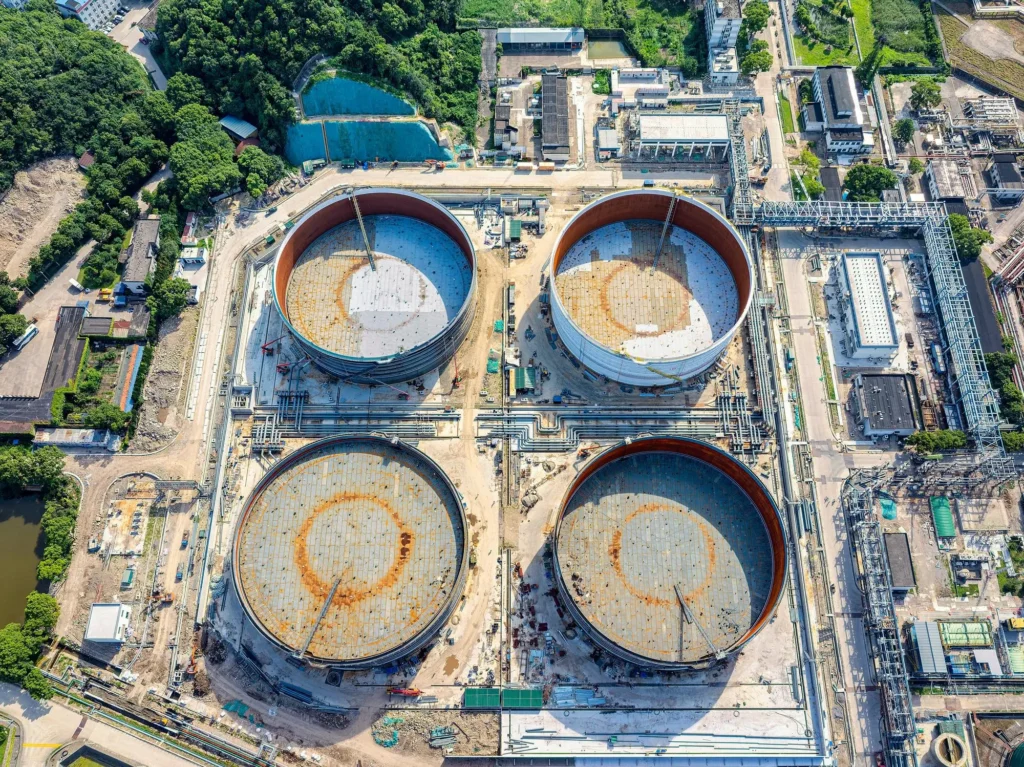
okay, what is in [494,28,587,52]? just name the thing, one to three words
shed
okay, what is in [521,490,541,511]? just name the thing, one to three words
vehicle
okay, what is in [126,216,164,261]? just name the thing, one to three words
house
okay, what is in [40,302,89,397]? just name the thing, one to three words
building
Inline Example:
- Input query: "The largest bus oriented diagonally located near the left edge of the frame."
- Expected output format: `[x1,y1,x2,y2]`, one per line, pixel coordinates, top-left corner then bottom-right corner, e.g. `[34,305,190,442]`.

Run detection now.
[10,320,38,346]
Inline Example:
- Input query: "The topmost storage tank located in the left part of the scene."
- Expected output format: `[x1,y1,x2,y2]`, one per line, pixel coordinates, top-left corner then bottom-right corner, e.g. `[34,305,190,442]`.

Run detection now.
[272,182,476,384]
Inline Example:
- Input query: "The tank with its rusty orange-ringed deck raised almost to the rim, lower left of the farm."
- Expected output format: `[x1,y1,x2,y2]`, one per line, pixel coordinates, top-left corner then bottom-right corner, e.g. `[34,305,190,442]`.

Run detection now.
[232,434,471,674]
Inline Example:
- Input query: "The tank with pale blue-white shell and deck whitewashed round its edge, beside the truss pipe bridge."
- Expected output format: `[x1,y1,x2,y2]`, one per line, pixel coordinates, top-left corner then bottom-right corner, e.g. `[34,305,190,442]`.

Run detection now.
[549,185,754,385]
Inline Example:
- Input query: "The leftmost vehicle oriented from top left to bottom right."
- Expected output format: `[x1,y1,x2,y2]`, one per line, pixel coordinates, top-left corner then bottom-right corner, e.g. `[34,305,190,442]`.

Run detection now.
[66,275,84,290]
